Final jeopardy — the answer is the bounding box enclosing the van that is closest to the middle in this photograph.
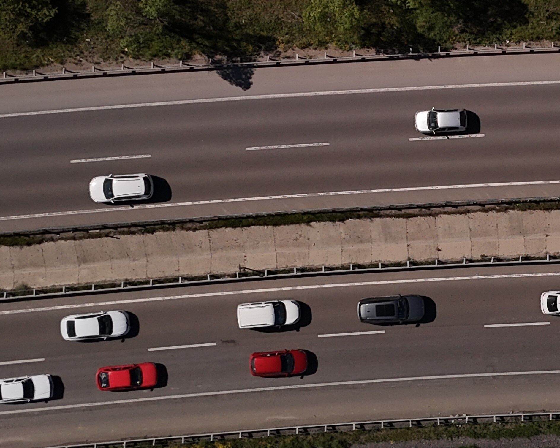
[237,298,302,329]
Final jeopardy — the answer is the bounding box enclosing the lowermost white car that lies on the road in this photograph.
[0,374,55,404]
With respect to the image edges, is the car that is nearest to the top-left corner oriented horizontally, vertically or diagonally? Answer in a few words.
horizontally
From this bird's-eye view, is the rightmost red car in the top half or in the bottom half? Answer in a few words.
bottom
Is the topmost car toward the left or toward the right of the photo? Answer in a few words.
right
